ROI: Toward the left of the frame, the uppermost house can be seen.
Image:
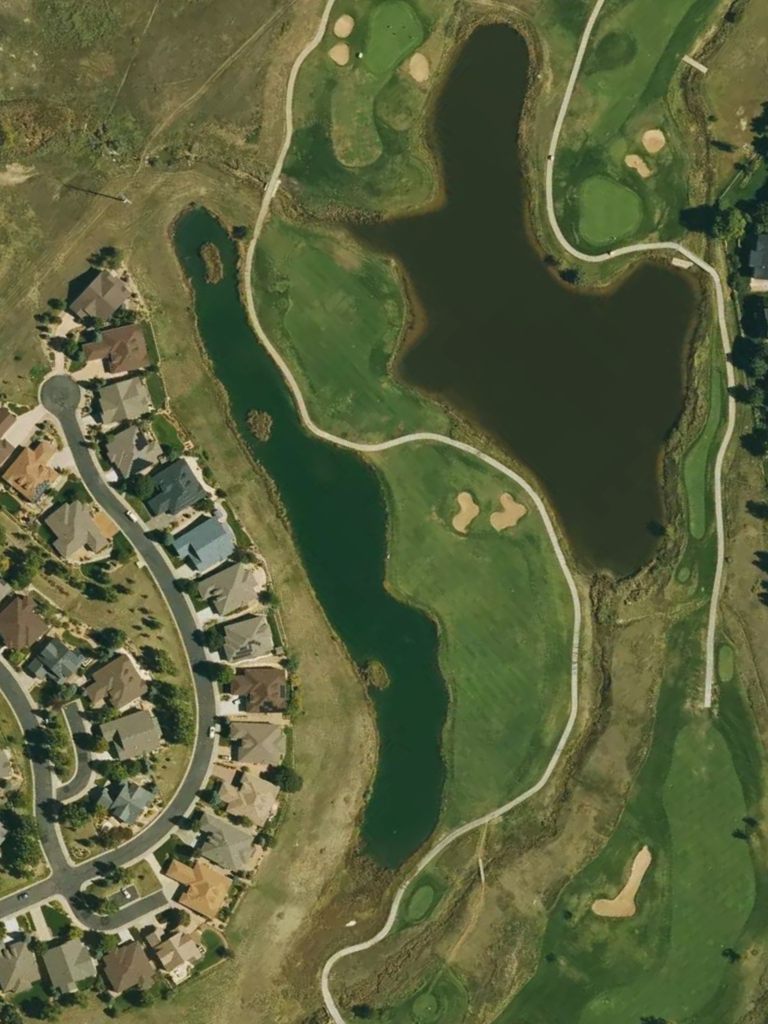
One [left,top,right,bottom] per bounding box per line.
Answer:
[71,264,130,323]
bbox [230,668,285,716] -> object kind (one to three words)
house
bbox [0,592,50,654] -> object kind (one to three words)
house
